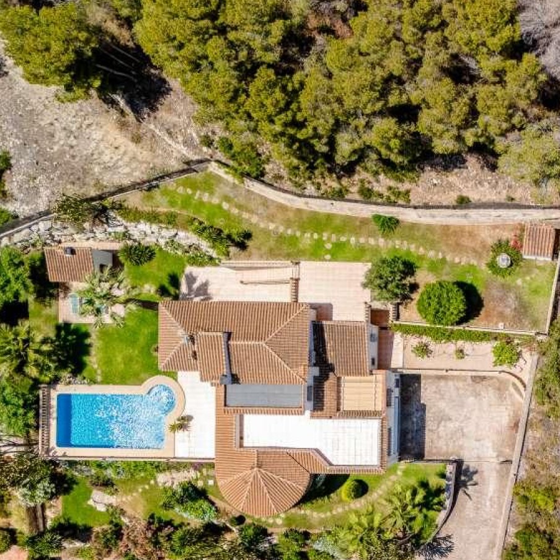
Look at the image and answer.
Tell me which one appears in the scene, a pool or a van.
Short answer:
pool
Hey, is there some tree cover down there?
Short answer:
Yes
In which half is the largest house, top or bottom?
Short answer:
bottom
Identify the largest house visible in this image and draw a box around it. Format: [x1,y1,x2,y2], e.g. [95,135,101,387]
[157,301,399,517]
